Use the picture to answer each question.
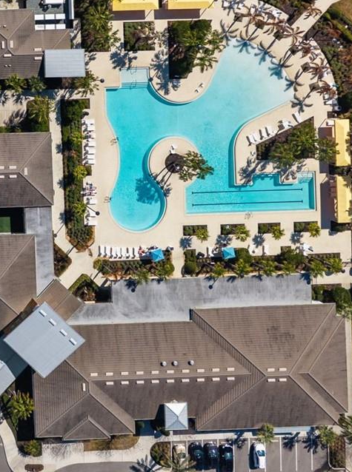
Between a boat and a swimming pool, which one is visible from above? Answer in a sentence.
Of the two, only a swimming pool appears.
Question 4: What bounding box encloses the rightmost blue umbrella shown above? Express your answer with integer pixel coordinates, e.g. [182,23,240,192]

[221,245,236,259]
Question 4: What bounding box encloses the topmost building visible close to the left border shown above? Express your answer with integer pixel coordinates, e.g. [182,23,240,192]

[0,9,85,80]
